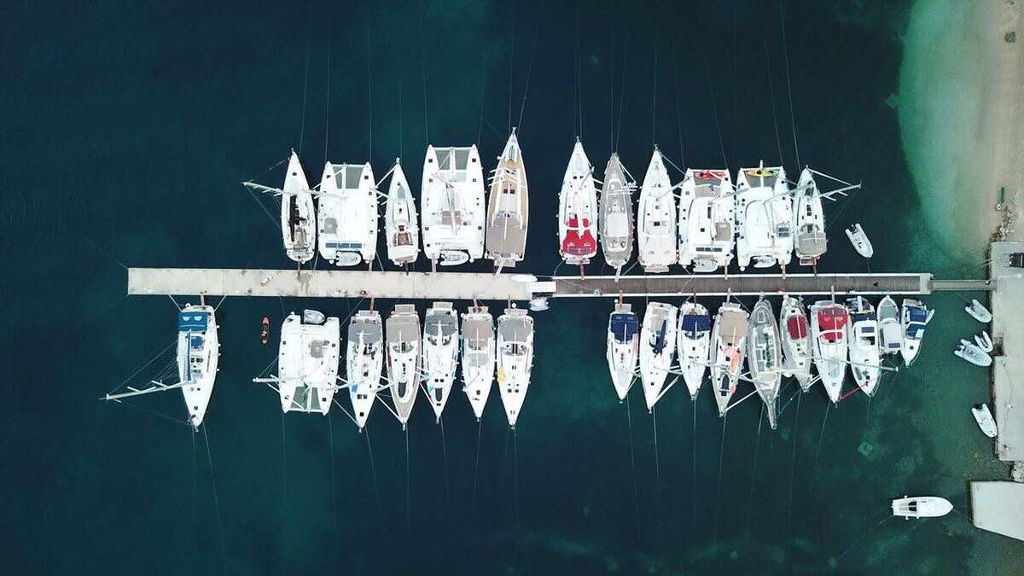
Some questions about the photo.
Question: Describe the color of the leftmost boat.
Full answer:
The color of the leftmost boat is white.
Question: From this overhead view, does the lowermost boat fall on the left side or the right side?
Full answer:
The lowermost boat appears in the right half of the scene.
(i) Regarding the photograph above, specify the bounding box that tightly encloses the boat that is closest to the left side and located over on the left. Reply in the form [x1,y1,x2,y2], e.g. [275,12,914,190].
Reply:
[99,303,223,430]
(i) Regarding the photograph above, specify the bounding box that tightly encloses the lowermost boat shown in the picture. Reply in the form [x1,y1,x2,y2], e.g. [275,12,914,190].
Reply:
[887,496,958,519]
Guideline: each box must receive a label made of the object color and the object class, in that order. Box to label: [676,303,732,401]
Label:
white boat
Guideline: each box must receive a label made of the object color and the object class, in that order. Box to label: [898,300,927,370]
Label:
white boat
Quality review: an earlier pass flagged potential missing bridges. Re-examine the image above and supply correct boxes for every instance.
[927,279,996,292]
